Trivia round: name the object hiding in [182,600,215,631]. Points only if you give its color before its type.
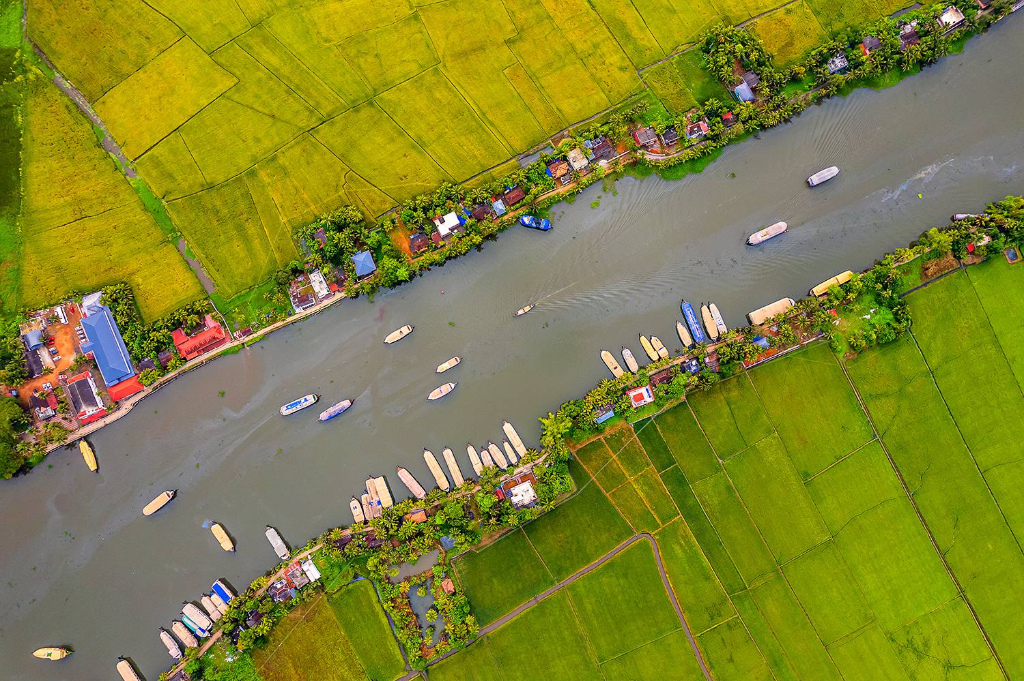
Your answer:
white boat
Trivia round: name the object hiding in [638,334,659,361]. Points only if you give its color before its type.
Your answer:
yellow boat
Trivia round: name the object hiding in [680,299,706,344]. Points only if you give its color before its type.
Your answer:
blue boat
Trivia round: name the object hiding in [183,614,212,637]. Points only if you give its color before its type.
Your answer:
white boat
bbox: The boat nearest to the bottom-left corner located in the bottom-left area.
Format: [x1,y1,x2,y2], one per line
[34,644,78,658]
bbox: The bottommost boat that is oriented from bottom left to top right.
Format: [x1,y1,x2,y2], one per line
[143,488,181,517]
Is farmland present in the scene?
Yes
